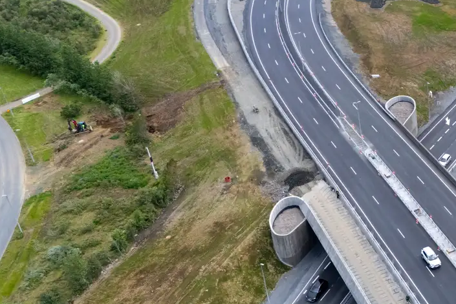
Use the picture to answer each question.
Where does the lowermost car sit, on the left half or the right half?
right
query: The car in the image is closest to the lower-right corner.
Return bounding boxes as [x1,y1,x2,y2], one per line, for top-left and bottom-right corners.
[421,246,440,268]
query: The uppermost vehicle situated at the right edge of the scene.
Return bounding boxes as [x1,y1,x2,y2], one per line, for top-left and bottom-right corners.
[439,153,453,167]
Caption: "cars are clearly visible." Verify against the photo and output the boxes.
[421,246,440,268]
[305,279,328,302]
[439,153,453,167]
